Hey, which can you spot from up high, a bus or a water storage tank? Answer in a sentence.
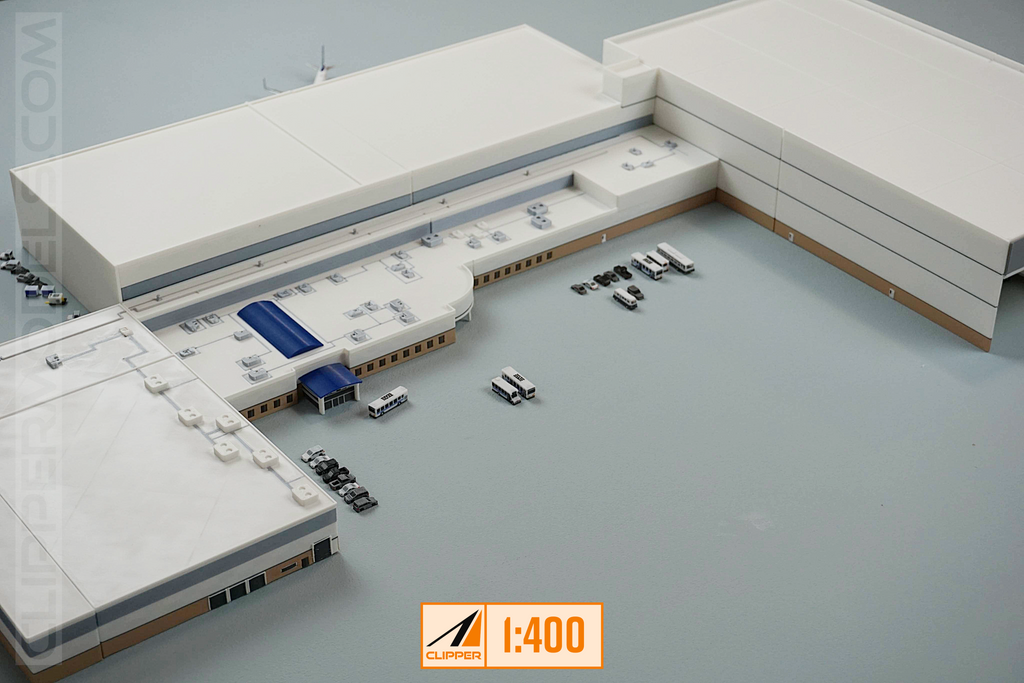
The image shows a bus.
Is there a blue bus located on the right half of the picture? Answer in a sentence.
No, no blue bus can be made out on the right half of the picture.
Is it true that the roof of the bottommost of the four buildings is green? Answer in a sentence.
No, from above the roof of the bottommost of the four buildings looks white.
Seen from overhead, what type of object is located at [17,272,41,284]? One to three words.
vehicle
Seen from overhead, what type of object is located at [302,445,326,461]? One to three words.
car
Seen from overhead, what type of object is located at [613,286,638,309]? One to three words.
bus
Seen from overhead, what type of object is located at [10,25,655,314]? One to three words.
hangar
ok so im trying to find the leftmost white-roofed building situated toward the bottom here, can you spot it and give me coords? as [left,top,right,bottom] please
[0,305,338,683]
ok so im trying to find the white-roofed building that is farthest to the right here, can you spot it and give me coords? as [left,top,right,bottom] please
[601,0,1024,351]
